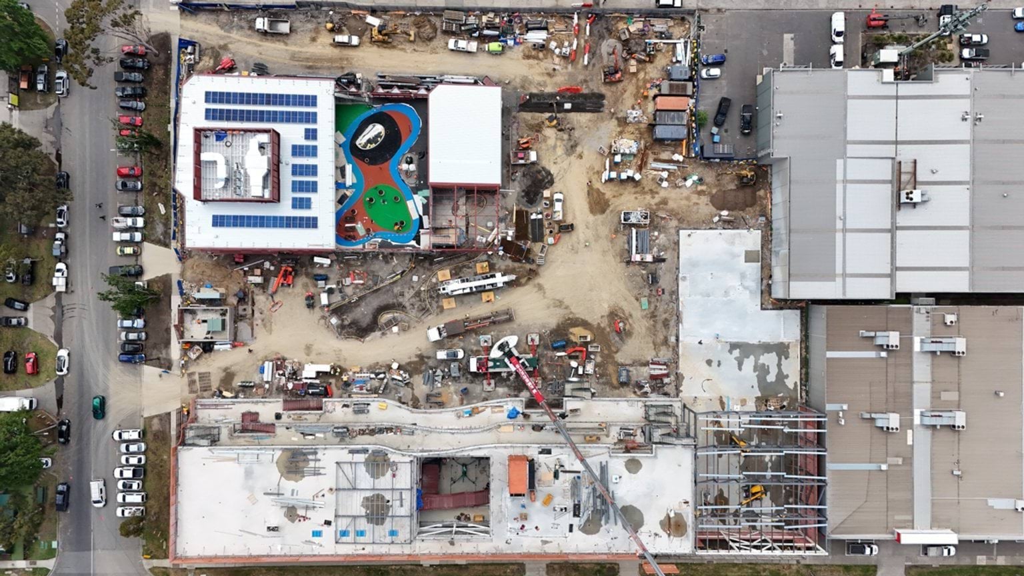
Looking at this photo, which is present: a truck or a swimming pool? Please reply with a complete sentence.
The one in the frame is a truck.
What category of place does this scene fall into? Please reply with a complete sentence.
The area seen from above is an industrial area.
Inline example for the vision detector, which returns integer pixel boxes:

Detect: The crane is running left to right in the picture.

[438,269,517,297]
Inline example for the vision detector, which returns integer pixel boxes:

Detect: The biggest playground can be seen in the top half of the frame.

[332,99,435,254]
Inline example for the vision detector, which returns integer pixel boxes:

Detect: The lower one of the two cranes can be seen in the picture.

[469,335,663,576]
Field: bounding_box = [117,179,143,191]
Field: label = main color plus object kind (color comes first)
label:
gray vehicle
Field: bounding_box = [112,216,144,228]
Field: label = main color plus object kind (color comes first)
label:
white vehicle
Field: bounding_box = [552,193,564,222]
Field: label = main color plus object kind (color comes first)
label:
white vehicle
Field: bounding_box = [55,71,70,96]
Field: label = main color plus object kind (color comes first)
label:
gray car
